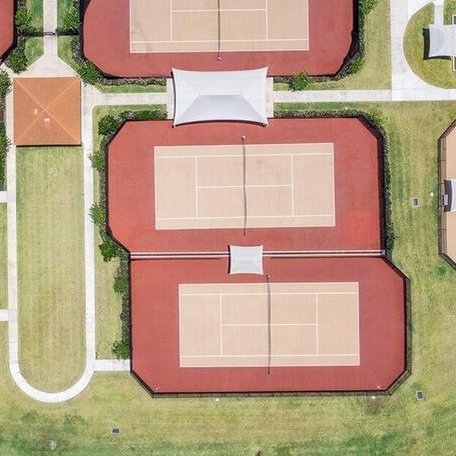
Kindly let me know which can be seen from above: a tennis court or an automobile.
tennis court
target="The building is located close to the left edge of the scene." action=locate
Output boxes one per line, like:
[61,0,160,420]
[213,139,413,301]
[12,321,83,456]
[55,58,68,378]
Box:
[13,77,81,146]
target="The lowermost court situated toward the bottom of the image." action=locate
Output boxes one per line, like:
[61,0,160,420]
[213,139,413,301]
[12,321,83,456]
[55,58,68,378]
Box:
[131,255,406,394]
